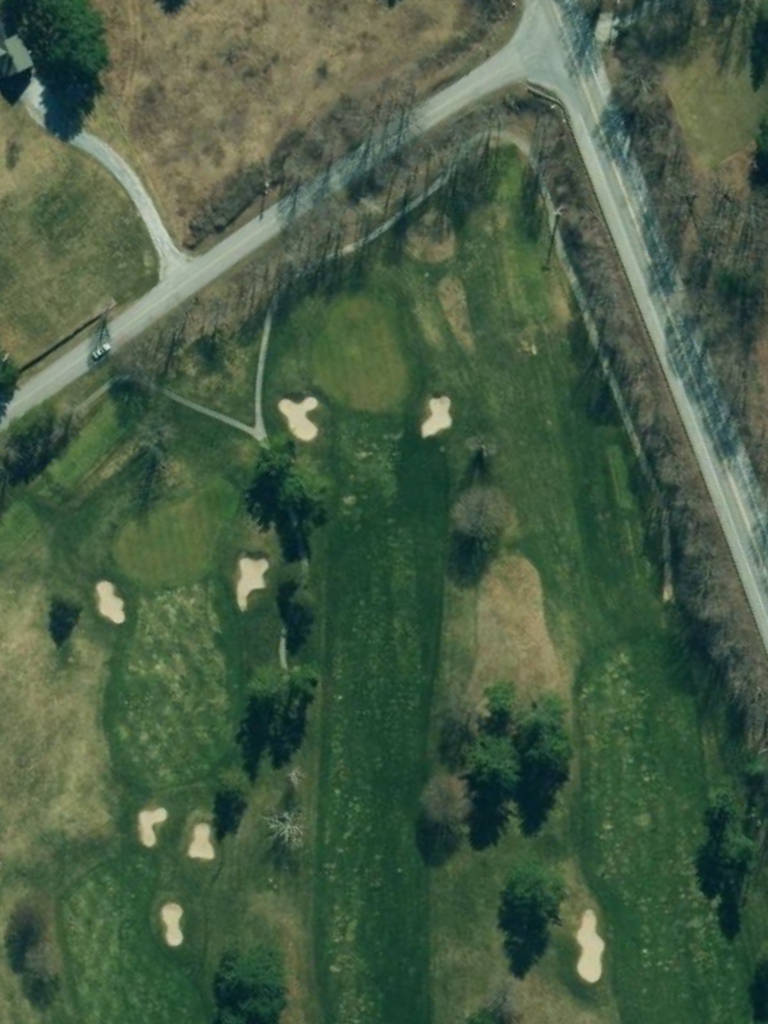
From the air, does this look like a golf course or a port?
golf course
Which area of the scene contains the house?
top left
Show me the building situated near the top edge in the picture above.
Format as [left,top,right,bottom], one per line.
[0,34,31,70]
